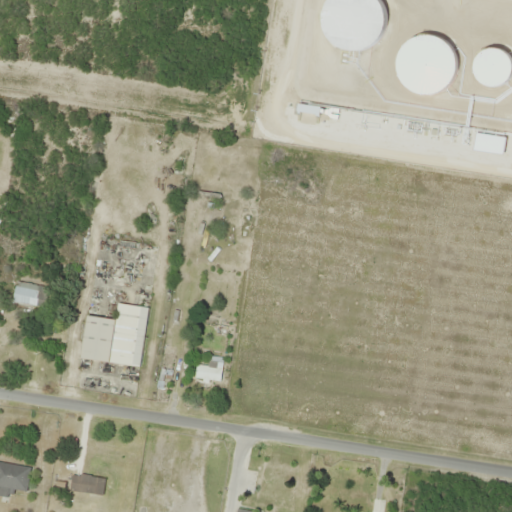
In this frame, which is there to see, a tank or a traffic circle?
tank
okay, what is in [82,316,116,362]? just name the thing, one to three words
building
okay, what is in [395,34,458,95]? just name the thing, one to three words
storage tank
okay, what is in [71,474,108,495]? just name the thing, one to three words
house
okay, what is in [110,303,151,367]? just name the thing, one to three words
building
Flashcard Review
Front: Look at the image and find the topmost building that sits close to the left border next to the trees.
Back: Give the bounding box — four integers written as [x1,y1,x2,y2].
[14,282,47,308]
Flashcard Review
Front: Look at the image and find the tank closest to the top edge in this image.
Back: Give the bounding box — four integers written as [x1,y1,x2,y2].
[322,0,389,53]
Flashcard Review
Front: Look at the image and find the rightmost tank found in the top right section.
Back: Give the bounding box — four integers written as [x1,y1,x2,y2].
[471,48,512,88]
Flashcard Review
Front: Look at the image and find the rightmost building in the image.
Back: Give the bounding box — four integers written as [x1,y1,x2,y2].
[474,134,506,154]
